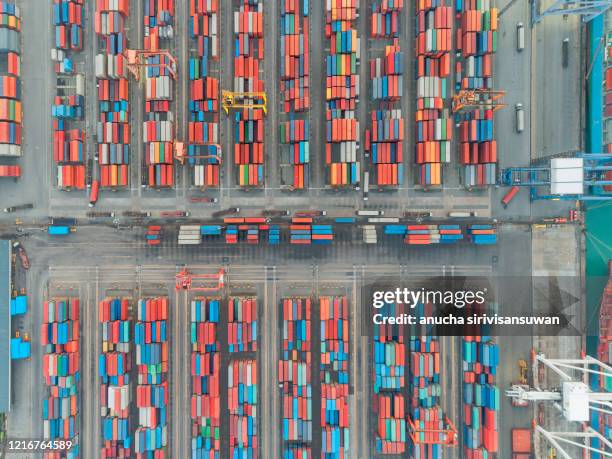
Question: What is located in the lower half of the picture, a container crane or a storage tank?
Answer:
container crane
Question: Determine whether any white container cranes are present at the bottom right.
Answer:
Yes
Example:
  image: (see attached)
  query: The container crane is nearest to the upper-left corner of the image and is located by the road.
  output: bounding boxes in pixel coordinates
[123,49,178,78]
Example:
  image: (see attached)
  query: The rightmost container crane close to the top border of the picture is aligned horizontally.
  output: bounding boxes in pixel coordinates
[531,0,607,26]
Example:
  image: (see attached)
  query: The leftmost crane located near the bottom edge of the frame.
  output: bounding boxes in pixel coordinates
[407,415,458,446]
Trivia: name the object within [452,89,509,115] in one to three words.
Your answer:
container crane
